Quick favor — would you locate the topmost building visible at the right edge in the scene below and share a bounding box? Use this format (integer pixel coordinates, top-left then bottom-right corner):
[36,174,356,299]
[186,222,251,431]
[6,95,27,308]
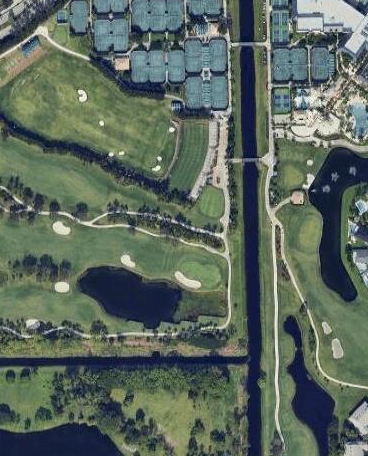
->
[297,0,366,32]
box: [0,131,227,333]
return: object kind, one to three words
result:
golf course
